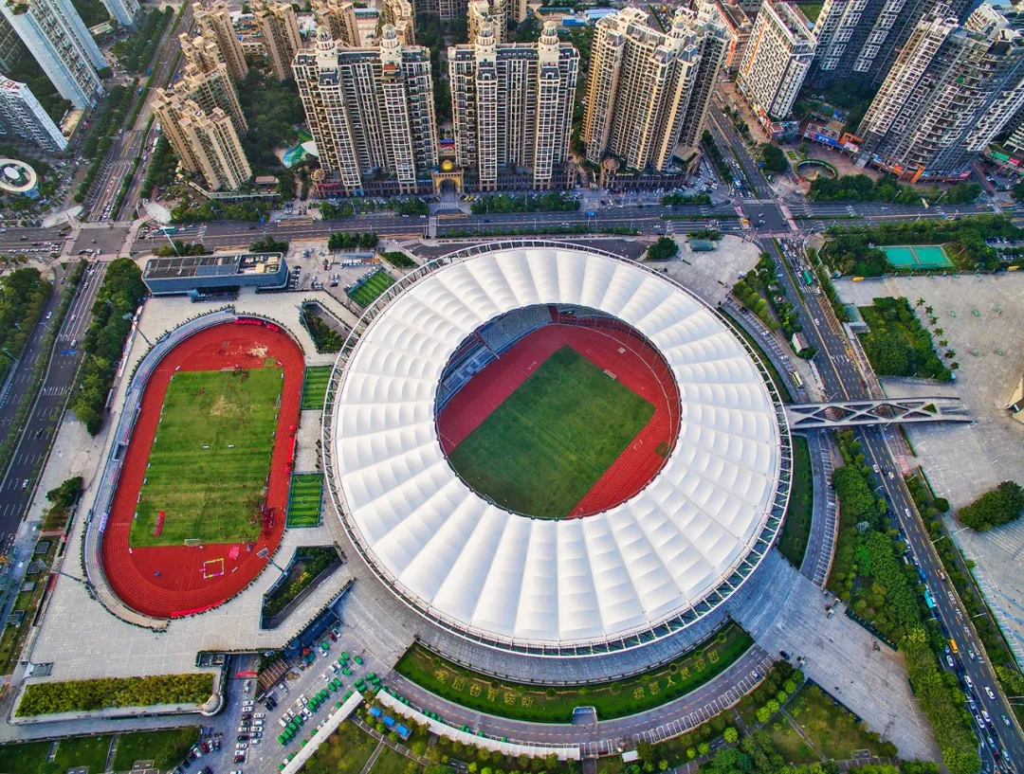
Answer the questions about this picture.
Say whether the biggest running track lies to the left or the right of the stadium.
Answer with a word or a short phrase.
to its left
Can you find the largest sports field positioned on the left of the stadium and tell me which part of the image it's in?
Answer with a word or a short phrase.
left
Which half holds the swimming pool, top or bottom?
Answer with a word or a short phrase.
top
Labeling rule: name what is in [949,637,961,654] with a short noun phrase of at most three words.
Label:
vehicle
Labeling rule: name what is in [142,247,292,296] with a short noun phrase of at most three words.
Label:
building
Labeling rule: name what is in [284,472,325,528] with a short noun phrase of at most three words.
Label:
soccer field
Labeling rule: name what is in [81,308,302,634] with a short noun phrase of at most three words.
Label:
running track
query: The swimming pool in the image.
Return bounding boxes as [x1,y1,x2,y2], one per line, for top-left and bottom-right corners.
[284,134,313,168]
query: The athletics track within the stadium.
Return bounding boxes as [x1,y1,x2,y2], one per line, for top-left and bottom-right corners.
[434,318,681,519]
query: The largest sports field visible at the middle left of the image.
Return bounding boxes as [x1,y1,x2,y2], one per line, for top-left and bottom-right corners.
[127,357,283,548]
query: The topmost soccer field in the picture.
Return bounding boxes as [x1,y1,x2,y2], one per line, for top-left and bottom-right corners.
[344,265,398,308]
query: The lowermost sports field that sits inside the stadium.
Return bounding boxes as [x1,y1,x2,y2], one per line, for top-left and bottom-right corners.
[448,347,671,518]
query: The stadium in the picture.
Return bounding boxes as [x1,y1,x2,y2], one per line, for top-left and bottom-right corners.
[321,239,795,686]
